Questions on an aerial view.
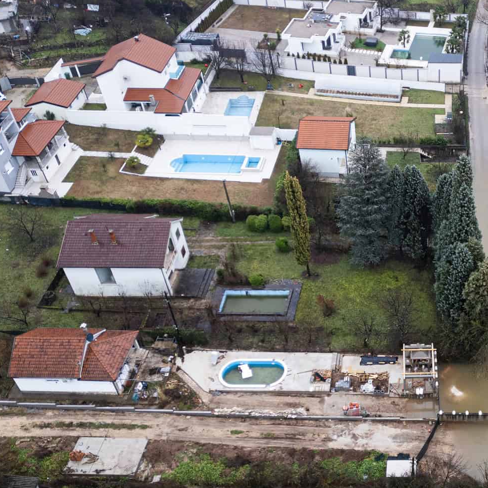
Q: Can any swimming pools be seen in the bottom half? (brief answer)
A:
Yes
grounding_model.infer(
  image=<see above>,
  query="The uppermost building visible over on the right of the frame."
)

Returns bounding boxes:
[284,0,374,60]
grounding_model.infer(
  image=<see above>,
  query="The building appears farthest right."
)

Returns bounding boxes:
[427,55,463,86]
